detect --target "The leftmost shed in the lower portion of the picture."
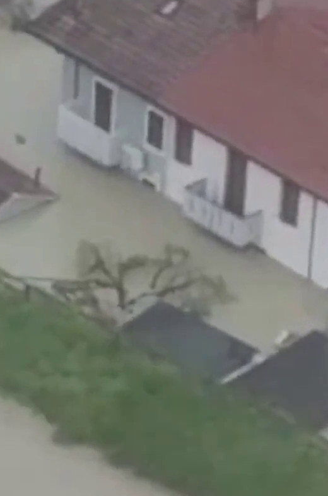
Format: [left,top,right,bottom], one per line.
[109,299,257,391]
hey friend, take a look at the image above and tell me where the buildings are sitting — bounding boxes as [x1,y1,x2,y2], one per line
[109,299,257,391]
[218,329,328,446]
[0,162,59,236]
[22,0,328,286]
